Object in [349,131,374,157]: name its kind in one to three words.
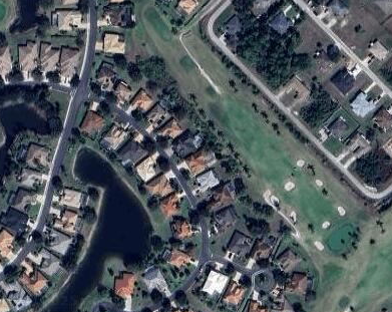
house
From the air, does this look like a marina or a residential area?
residential area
